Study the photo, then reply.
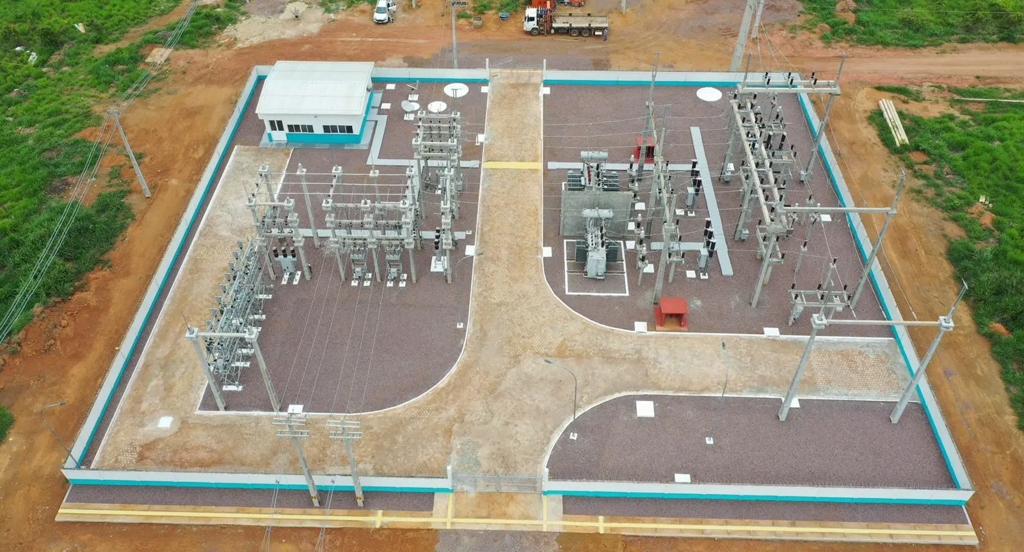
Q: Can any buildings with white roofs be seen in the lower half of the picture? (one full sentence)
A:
No, in the lower half of the picture there is no building with a white roof.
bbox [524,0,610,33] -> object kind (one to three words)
truck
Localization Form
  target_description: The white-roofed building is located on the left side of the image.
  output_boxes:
[254,60,376,144]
